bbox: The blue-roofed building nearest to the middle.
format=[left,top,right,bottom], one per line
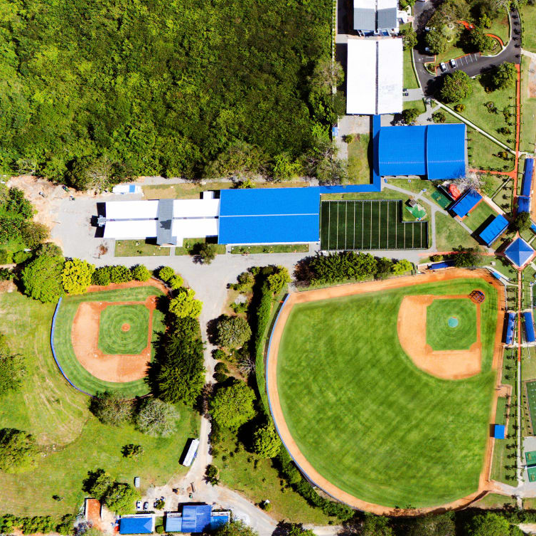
[217,188,322,248]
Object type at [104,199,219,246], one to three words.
building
